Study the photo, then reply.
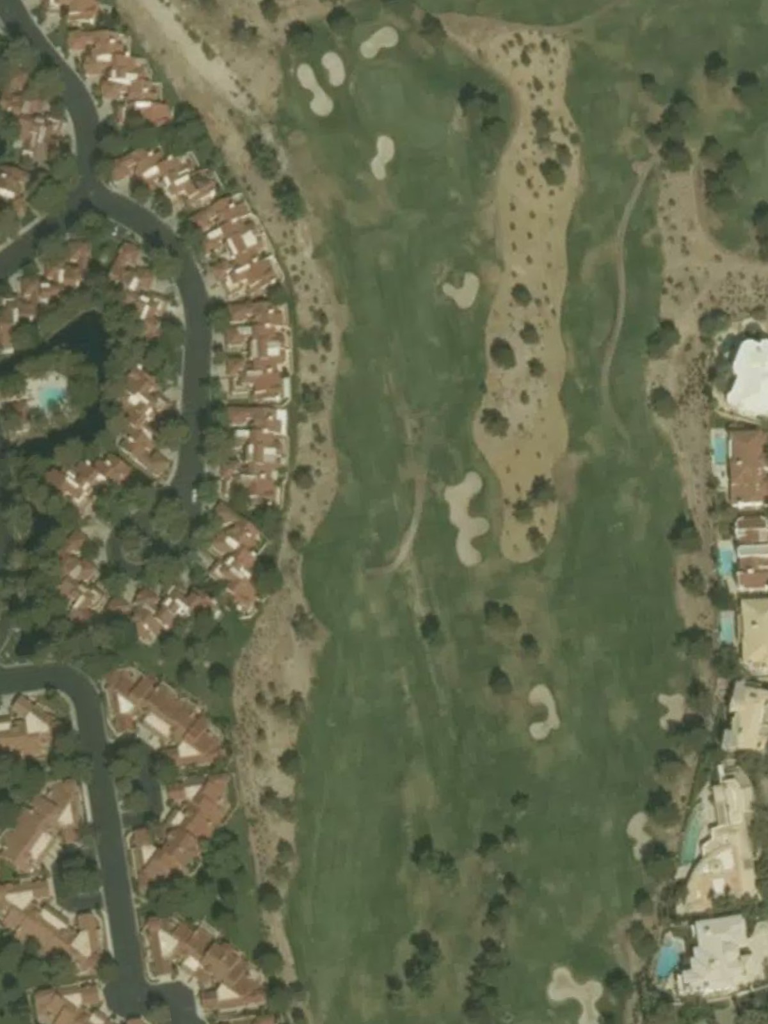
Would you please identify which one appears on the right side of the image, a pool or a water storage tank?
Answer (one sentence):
The one visible on the right side of the image is a pool.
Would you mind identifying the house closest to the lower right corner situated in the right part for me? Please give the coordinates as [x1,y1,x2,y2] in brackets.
[671,915,768,1022]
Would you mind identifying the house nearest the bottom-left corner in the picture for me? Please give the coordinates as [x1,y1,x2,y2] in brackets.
[28,980,107,1024]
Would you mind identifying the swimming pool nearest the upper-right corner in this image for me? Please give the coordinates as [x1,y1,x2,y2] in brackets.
[711,428,728,491]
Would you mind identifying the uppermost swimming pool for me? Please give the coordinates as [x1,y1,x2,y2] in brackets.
[26,372,69,430]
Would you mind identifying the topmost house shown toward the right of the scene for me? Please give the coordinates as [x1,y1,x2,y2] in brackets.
[710,318,768,422]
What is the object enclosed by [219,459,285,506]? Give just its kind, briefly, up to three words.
house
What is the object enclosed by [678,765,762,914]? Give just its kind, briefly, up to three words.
house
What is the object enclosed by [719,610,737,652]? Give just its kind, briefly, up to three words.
swimming pool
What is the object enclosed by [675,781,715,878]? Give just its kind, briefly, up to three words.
swimming pool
